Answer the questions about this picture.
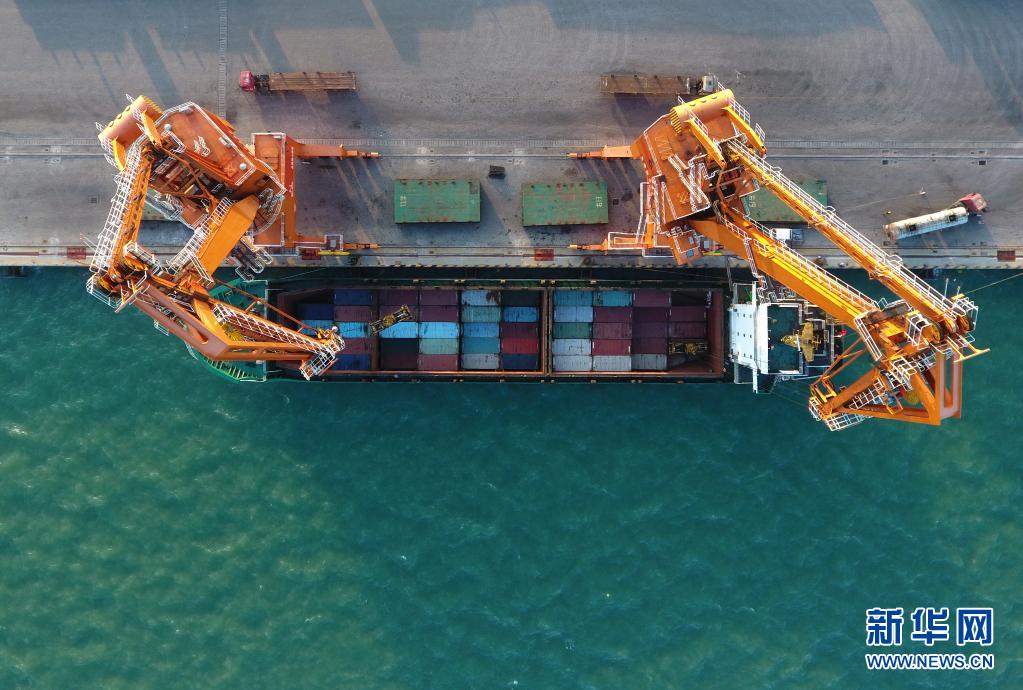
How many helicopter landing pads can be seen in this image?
0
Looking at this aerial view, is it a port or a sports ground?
port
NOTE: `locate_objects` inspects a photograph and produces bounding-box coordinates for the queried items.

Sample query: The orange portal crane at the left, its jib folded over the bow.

[78,89,394,377]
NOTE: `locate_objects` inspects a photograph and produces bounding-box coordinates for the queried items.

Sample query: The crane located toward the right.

[569,81,984,428]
